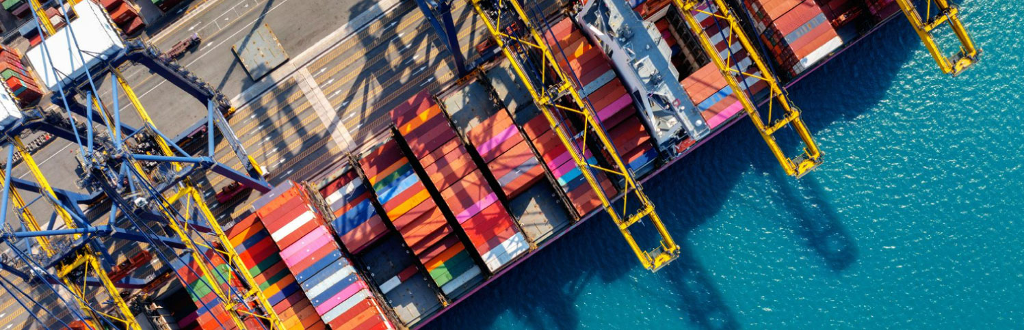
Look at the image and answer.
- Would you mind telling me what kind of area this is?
port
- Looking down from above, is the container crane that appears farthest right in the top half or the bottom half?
top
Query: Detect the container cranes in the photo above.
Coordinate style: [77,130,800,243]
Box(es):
[0,80,213,330]
[676,0,834,183]
[17,0,292,330]
[394,0,688,280]
[892,0,987,84]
